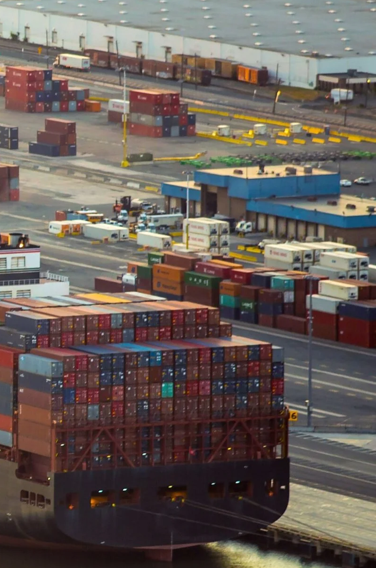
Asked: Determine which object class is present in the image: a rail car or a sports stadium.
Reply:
rail car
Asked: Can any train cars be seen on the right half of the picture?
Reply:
Yes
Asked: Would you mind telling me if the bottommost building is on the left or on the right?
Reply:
right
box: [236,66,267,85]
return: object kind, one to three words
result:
rail car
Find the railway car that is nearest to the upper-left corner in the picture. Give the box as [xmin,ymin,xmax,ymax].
[83,46,117,67]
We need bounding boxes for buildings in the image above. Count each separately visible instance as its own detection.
[0,0,376,90]
[161,164,376,251]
